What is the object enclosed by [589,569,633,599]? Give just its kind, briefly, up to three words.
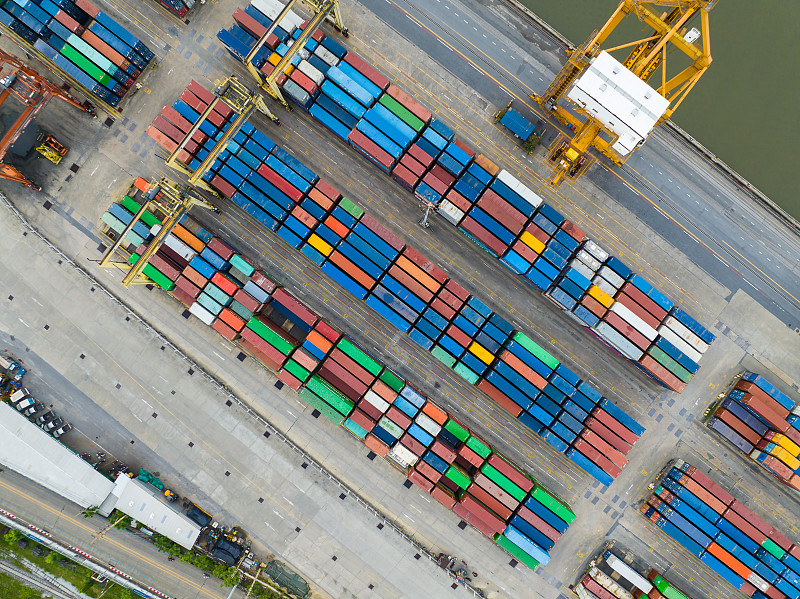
shipping container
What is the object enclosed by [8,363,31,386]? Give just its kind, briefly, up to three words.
truck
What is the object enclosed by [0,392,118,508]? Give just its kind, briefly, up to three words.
shed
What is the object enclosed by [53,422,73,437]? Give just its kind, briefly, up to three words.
vehicle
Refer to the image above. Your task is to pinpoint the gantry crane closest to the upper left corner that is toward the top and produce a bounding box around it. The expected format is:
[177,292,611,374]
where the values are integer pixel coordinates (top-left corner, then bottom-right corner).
[0,59,102,197]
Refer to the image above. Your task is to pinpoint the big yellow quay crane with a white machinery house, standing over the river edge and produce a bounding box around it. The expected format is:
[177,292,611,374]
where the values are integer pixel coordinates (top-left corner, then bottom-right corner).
[529,0,723,194]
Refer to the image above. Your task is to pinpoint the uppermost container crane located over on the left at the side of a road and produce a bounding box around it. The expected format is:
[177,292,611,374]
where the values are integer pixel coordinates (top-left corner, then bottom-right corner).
[242,0,352,113]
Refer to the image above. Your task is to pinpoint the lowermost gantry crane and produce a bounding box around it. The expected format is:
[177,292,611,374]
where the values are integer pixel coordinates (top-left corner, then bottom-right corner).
[96,173,223,291]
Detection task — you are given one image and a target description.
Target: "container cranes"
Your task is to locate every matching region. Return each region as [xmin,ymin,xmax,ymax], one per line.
[0,59,102,197]
[529,0,723,194]
[96,173,223,291]
[242,0,352,113]
[163,66,284,202]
